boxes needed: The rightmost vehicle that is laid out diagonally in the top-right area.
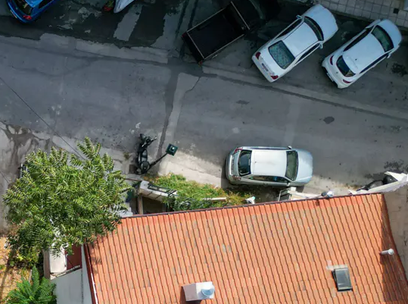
[311,18,399,97]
